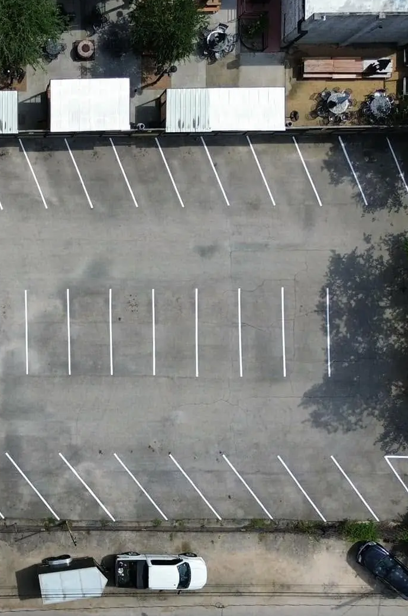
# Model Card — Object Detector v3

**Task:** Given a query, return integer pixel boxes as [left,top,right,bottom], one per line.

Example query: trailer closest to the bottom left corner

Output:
[37,554,114,603]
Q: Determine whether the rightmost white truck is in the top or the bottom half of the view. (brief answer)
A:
bottom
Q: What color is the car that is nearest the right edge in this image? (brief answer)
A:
black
